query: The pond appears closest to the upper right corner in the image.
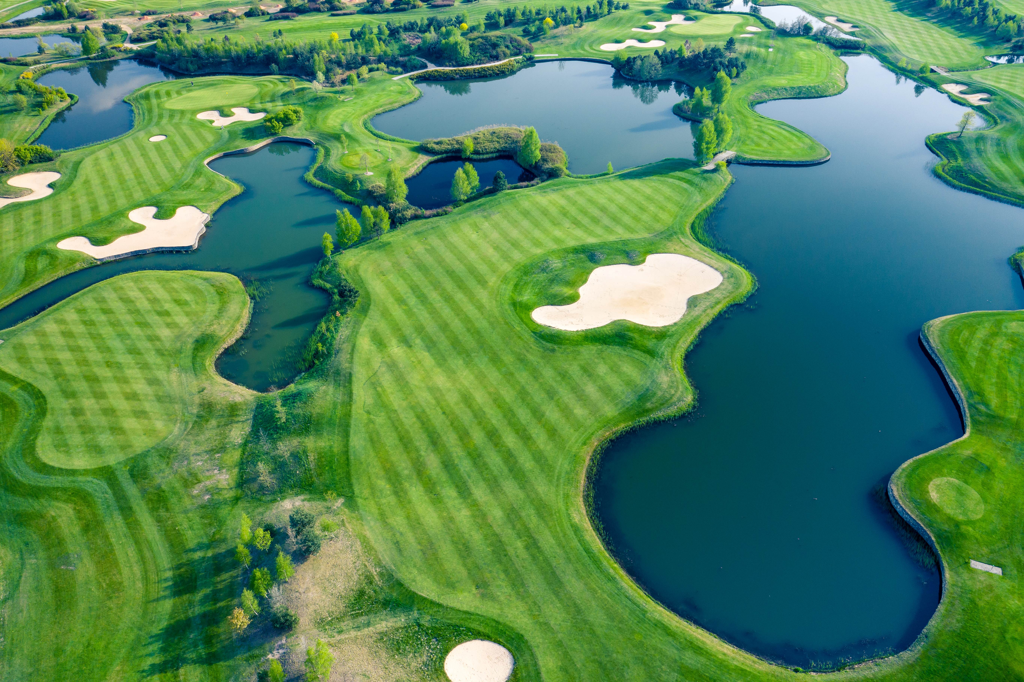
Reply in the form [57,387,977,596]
[718,0,858,39]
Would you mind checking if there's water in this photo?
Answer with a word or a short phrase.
Yes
